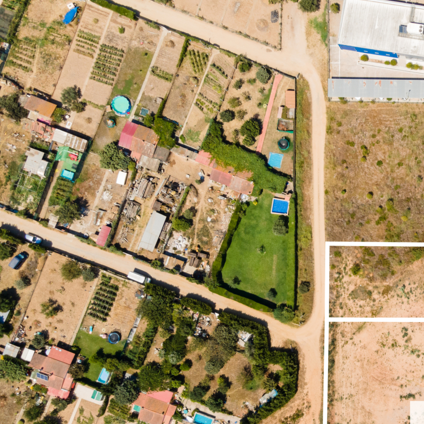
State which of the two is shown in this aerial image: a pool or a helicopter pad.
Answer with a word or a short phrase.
pool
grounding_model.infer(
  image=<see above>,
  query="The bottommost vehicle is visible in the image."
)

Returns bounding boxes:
[125,271,151,284]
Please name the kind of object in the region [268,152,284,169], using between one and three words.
swimming pool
